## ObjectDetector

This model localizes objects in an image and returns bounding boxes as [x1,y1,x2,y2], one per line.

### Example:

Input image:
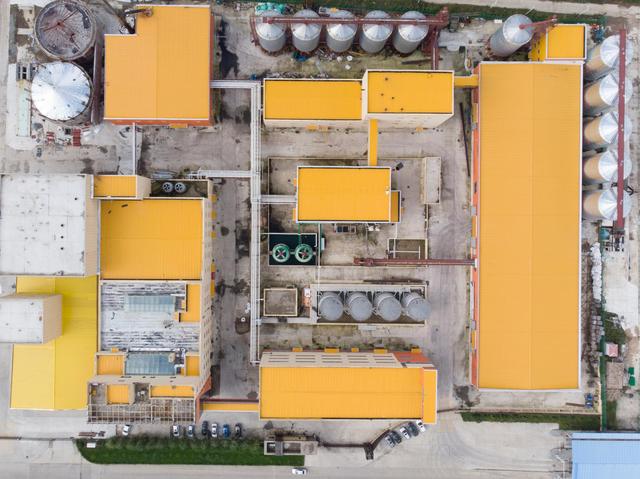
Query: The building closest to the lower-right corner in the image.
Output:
[570,433,640,479]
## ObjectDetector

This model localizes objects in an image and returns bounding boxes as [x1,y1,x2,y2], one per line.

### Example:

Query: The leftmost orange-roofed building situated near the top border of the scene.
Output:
[104,5,216,127]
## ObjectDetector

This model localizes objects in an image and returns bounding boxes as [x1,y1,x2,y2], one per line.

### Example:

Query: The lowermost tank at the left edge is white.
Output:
[31,61,94,126]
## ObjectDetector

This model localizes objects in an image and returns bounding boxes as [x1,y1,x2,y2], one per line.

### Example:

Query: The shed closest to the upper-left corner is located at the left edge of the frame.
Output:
[19,79,34,137]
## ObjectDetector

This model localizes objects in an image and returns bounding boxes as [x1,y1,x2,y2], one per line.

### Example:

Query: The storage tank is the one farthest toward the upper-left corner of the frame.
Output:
[34,0,98,61]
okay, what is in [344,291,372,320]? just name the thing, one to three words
storage tank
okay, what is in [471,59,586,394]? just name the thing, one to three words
warehouse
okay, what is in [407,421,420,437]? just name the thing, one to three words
vehicle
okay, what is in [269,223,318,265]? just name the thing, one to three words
cooling tower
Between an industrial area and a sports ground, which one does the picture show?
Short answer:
industrial area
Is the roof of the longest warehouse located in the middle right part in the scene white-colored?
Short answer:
No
